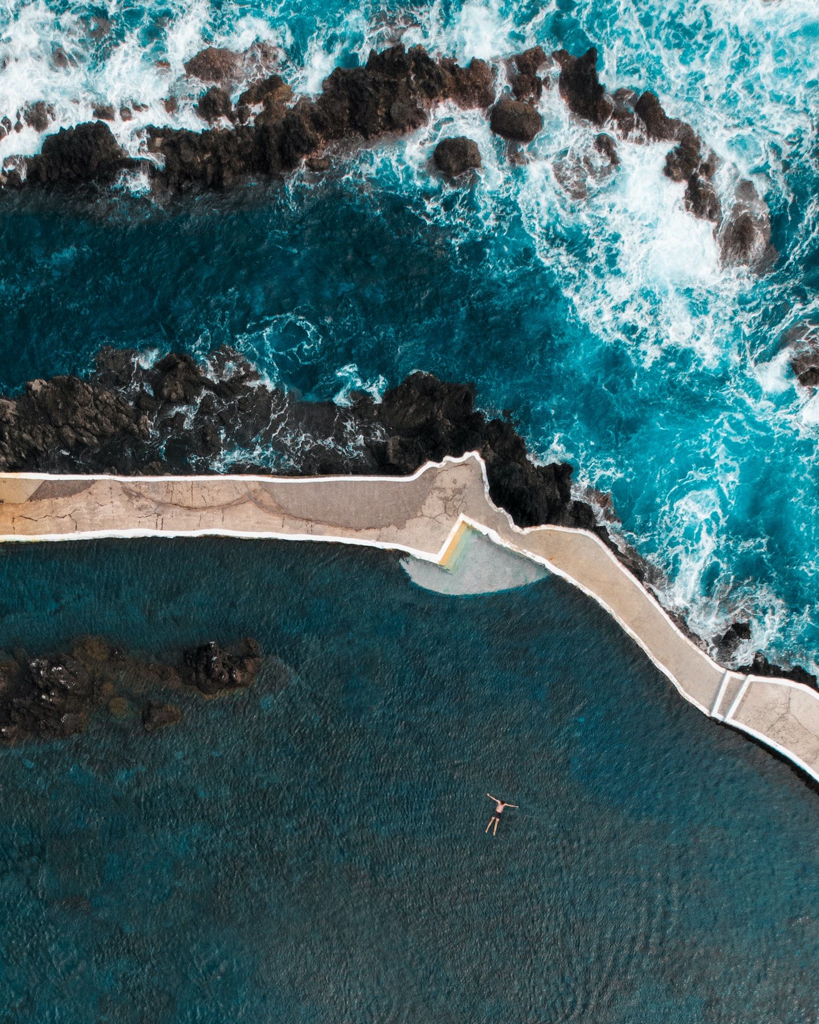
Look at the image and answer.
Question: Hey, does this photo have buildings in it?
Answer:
No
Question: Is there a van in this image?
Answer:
No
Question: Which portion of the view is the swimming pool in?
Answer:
bottom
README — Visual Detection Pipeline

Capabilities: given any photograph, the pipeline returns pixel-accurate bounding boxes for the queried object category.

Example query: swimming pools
[0,535,819,1024]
